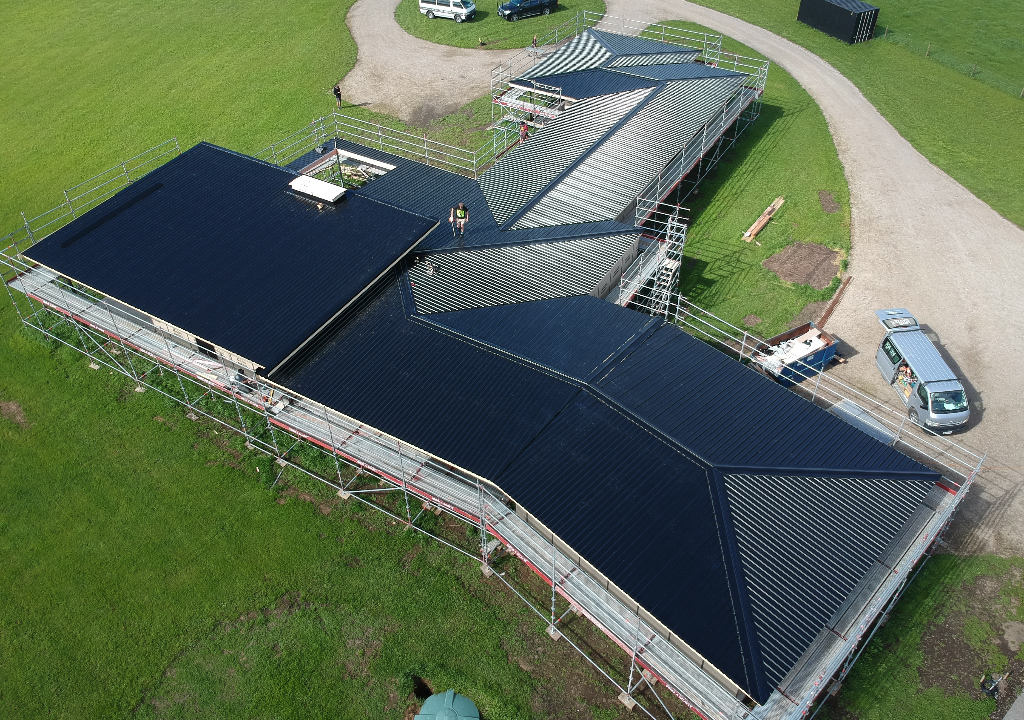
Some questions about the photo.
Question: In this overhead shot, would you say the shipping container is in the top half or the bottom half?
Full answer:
You can find the shipping container in the top half.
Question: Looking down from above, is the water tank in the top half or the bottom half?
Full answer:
Seen from above, the water tank lies in the bottom half of the view.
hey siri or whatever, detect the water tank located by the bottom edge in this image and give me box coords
[414,688,481,720]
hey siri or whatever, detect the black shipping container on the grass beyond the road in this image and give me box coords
[798,0,880,43]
